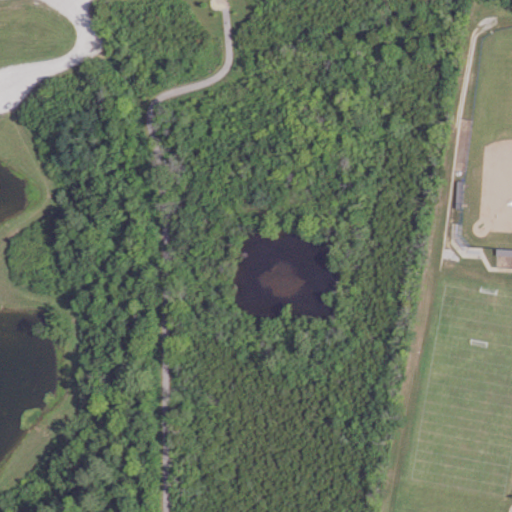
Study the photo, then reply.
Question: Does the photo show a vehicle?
No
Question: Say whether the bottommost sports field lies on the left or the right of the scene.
right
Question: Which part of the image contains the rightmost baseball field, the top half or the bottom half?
top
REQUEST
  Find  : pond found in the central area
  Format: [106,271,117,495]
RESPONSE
[232,231,338,320]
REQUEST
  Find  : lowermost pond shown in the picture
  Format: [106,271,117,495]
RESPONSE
[0,310,56,474]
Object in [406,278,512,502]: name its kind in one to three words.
sports field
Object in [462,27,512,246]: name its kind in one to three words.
baseball field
